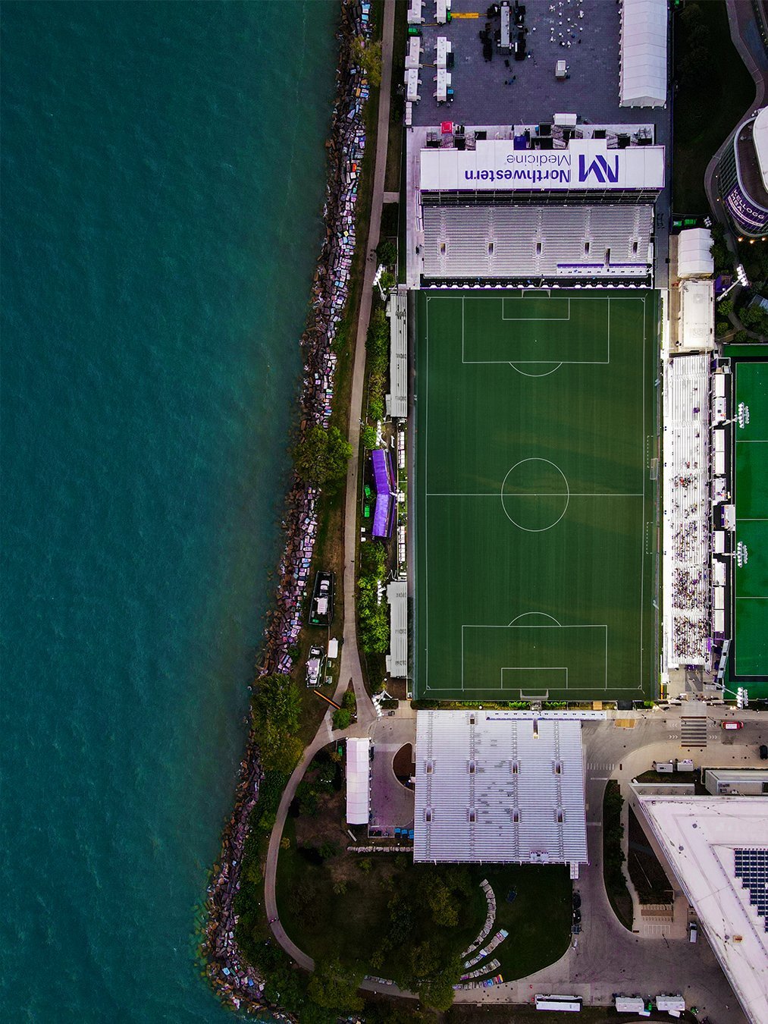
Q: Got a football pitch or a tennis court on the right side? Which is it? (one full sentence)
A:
You can see a football pitch on the right side.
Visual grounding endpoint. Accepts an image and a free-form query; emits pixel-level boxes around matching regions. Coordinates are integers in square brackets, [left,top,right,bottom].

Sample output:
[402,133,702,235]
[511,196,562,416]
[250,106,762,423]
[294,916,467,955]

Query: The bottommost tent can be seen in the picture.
[346,734,374,826]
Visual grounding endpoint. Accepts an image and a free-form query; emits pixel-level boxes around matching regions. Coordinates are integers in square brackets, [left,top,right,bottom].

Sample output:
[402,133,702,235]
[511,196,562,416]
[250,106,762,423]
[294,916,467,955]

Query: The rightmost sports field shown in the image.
[723,347,768,703]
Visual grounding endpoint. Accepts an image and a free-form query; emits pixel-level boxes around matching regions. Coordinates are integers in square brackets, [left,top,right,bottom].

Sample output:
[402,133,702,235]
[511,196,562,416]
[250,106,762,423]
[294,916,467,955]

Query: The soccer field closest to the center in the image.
[413,287,657,699]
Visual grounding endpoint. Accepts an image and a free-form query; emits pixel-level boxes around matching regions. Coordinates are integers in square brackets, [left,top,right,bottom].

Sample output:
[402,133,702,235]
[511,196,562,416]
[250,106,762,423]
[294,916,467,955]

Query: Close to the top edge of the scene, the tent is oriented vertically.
[617,0,668,110]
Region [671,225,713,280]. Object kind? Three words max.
tent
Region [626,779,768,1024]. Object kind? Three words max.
building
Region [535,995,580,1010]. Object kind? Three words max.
vehicle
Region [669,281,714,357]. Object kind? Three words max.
building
